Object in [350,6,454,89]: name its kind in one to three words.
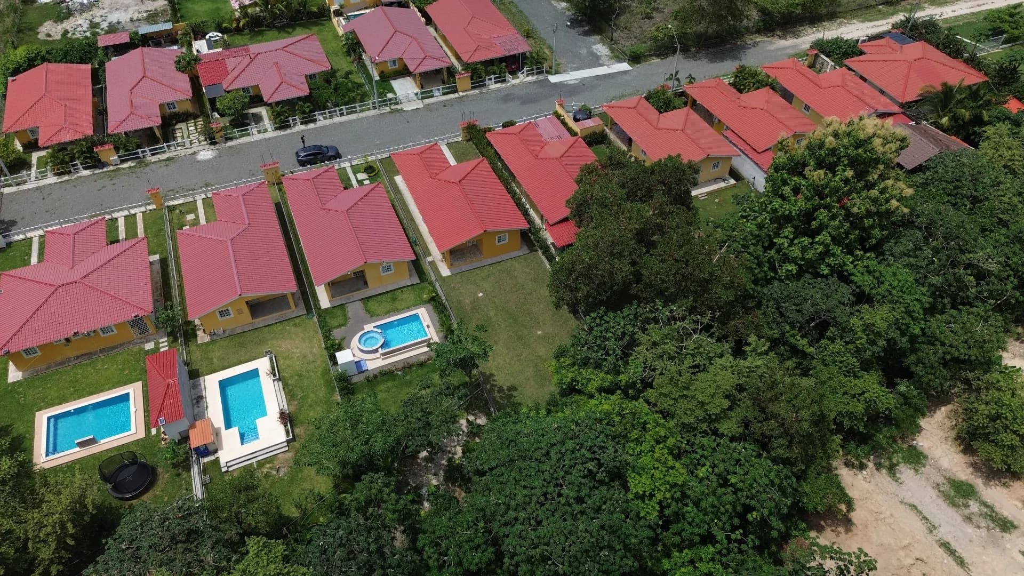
house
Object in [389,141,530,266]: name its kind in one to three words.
house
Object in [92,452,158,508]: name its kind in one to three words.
trampoline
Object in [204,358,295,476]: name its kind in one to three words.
swimming pool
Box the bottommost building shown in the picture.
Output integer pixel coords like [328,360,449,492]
[187,415,217,462]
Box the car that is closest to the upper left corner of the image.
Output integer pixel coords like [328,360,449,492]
[295,140,340,163]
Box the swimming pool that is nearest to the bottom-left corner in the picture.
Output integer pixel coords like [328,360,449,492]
[32,381,145,473]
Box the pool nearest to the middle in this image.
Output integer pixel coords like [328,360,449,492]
[349,309,443,373]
